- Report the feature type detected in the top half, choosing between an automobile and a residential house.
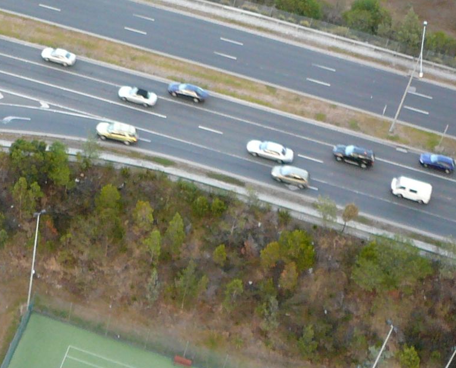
automobile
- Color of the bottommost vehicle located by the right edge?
white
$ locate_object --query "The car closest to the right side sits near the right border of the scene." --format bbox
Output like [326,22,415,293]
[417,153,456,175]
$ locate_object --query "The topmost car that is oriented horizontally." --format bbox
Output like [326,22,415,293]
[39,47,78,67]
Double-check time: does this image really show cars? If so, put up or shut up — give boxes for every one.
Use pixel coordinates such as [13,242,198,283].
[246,141,292,164]
[417,153,456,175]
[118,87,157,107]
[168,84,206,104]
[269,166,312,190]
[39,47,78,67]
[96,122,137,143]
[331,145,376,168]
